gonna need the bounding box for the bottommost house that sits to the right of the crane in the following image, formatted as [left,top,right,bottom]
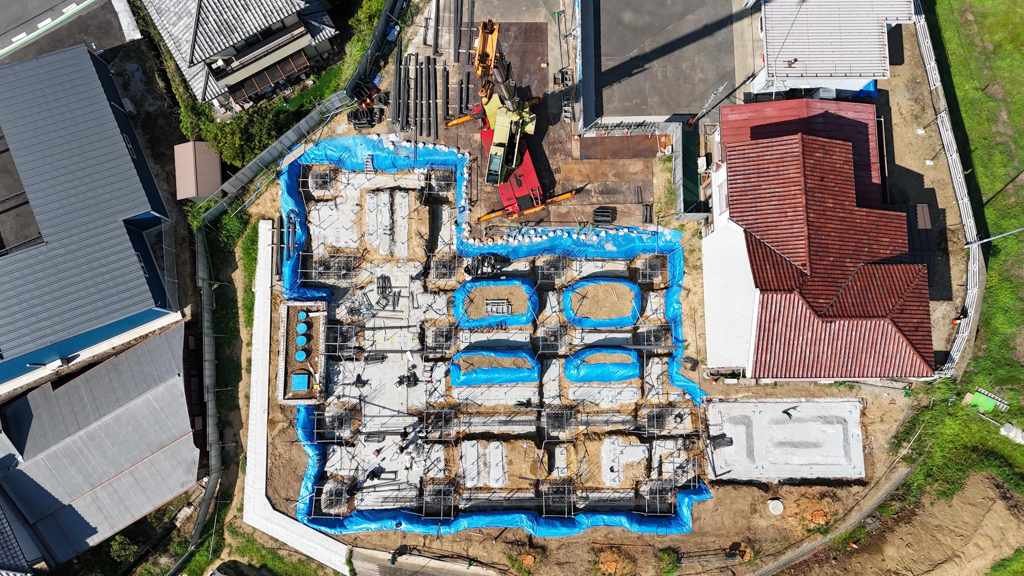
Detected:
[698,99,939,379]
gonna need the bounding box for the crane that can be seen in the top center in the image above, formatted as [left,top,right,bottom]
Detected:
[443,21,576,227]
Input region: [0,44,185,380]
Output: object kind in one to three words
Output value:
building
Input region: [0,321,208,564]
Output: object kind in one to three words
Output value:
building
